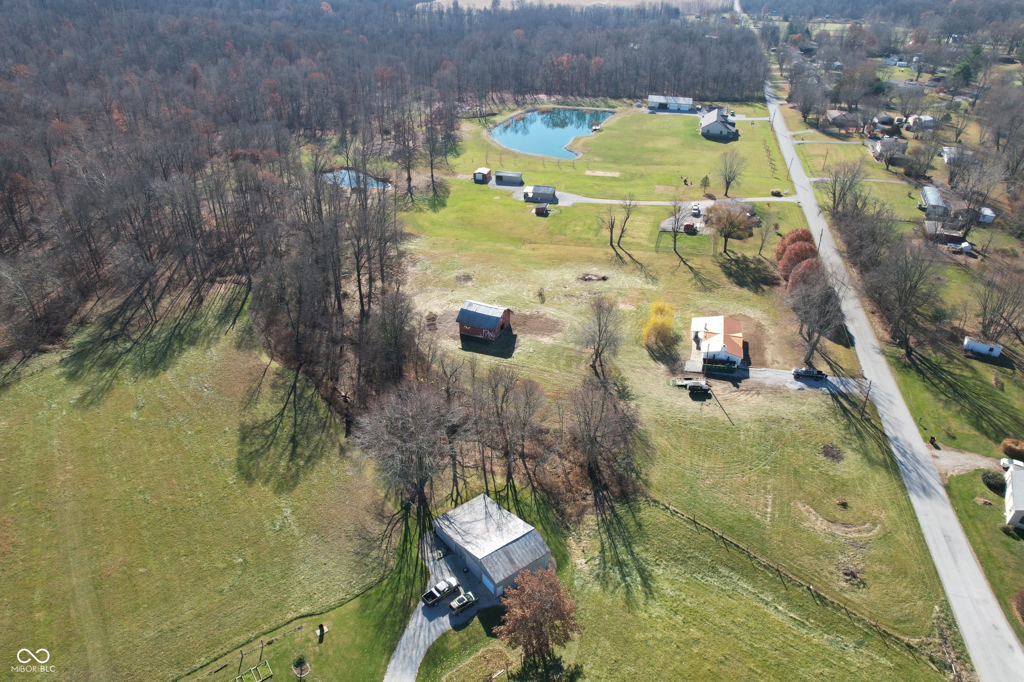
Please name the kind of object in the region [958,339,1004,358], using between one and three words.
trailer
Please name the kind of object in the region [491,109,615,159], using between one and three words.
pond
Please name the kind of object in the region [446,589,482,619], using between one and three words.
car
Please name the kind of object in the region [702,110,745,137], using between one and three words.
house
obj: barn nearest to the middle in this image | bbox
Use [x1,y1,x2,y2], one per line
[455,300,512,341]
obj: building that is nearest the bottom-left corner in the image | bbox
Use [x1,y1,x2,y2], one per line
[436,490,555,599]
